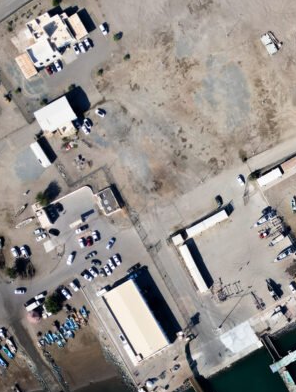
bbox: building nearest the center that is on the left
[97,187,125,216]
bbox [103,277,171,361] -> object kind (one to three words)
building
